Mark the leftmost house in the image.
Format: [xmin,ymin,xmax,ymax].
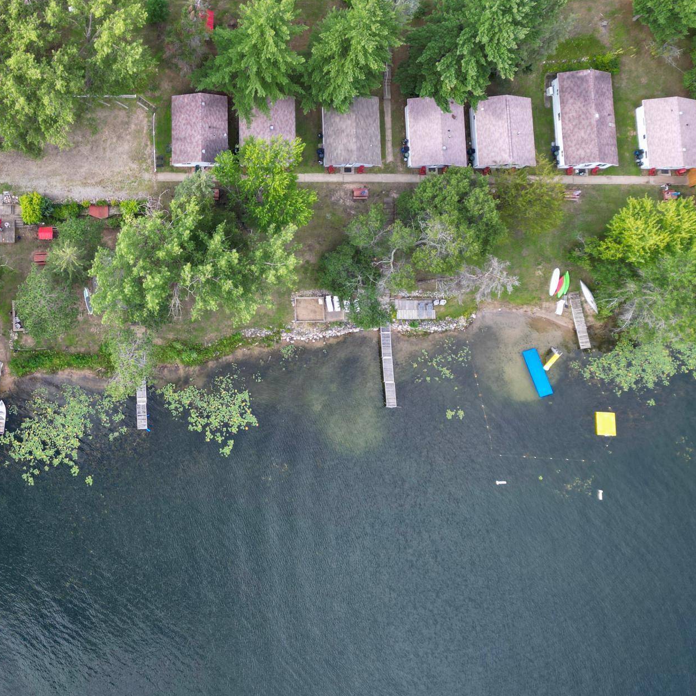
[171,92,228,177]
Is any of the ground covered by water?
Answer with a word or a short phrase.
Yes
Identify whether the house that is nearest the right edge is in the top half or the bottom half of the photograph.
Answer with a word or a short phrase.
top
